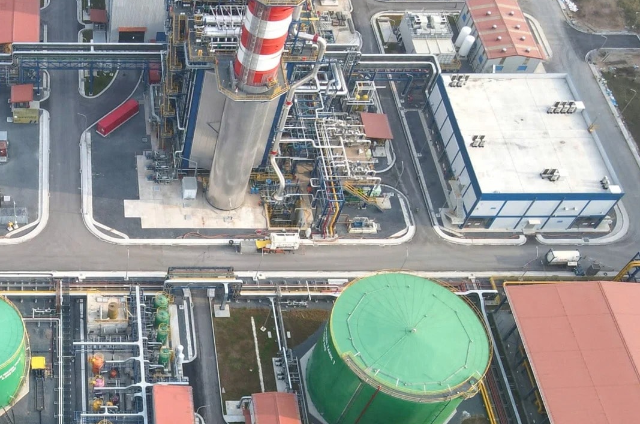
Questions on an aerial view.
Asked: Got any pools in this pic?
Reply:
No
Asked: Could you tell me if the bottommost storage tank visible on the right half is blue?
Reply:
No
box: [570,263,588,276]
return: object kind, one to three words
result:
vehicle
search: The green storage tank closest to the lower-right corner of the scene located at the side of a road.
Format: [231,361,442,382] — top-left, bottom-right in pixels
[292,268,490,424]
